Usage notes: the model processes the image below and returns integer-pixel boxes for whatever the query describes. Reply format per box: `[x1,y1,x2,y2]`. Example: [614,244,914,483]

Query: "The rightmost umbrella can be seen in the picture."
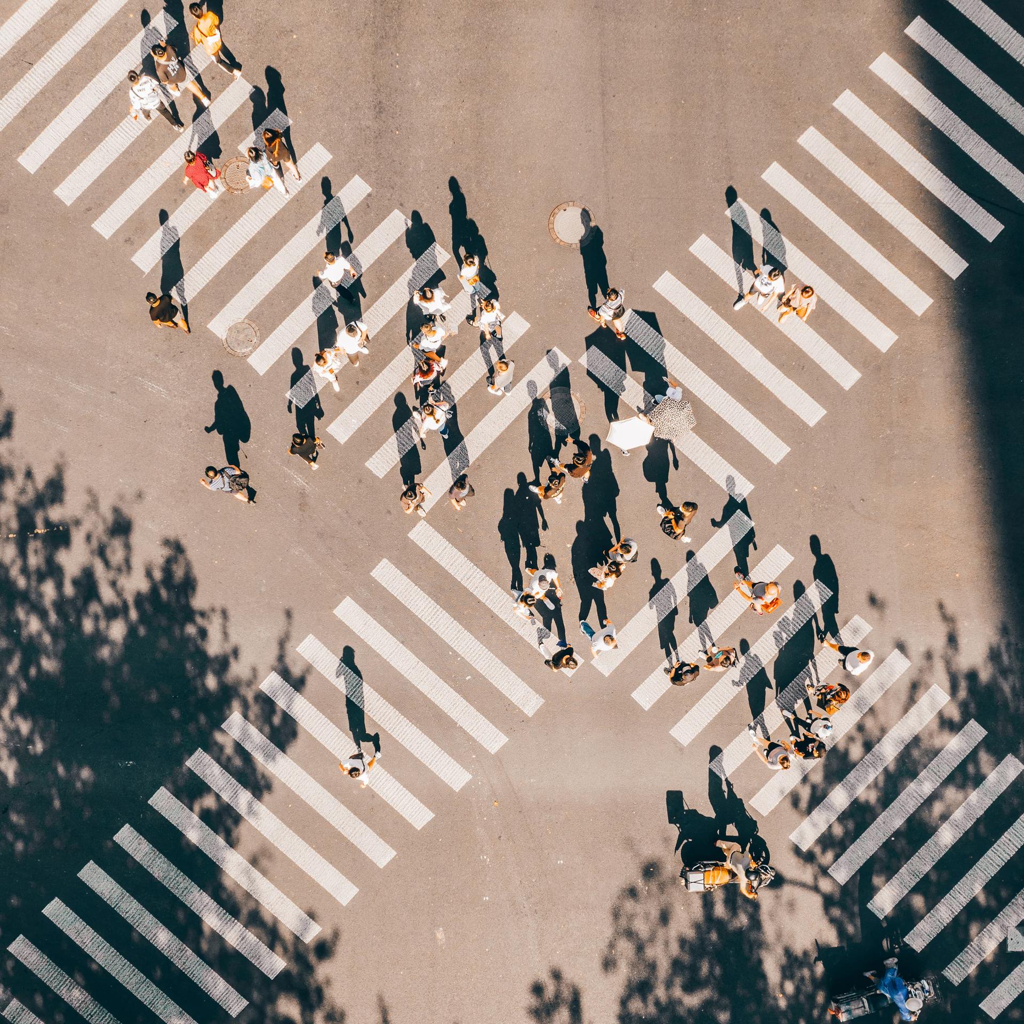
[647,393,695,442]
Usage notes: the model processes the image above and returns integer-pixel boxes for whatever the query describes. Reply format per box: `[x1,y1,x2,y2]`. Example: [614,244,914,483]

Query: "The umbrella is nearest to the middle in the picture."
[603,408,656,453]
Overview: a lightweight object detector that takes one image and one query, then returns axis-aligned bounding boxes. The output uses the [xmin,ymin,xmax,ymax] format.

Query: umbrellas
[603,408,656,453]
[647,393,695,442]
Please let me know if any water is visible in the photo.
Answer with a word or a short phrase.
No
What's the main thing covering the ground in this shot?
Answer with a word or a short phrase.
paved ground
